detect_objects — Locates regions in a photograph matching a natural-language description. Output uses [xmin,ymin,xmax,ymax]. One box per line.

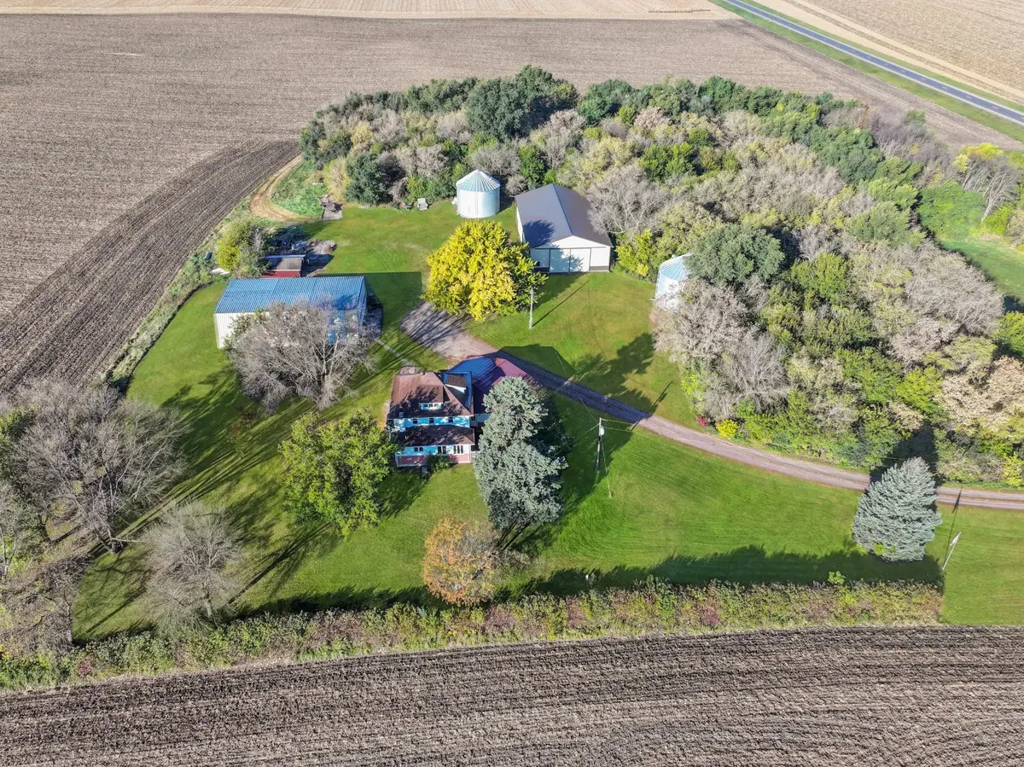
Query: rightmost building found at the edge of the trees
[517,184,614,274]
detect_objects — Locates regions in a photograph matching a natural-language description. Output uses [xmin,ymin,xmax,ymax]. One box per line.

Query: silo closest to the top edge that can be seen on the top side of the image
[456,168,501,218]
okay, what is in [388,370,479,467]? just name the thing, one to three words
house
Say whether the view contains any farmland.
Yes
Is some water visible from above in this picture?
No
